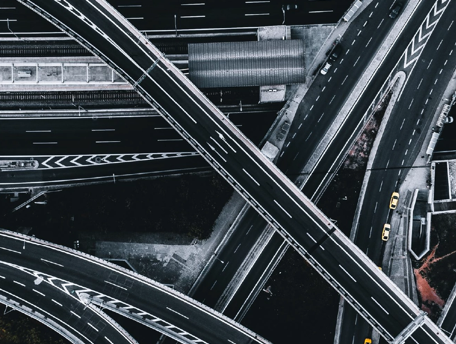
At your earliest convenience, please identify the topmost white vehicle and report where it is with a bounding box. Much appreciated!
[320,60,333,76]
